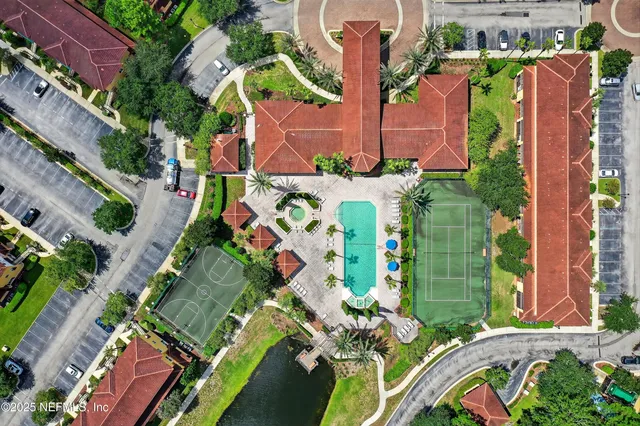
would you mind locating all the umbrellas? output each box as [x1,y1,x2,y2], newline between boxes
[386,239,398,250]
[387,260,399,272]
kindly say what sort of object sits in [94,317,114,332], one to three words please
car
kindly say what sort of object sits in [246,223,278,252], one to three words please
building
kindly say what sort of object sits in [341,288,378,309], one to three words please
fountain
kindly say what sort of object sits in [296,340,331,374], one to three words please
pier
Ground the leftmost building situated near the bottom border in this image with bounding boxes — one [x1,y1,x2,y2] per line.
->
[62,329,188,426]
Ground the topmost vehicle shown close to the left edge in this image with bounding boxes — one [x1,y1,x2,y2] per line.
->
[32,79,49,98]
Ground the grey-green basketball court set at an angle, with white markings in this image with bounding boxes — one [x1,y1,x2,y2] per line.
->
[150,239,250,347]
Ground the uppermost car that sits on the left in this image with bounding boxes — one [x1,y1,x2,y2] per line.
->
[212,58,229,76]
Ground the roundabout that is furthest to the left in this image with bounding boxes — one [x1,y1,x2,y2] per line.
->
[294,0,428,77]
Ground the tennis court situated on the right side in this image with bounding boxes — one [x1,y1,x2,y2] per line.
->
[416,181,488,328]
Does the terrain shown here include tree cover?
Yes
